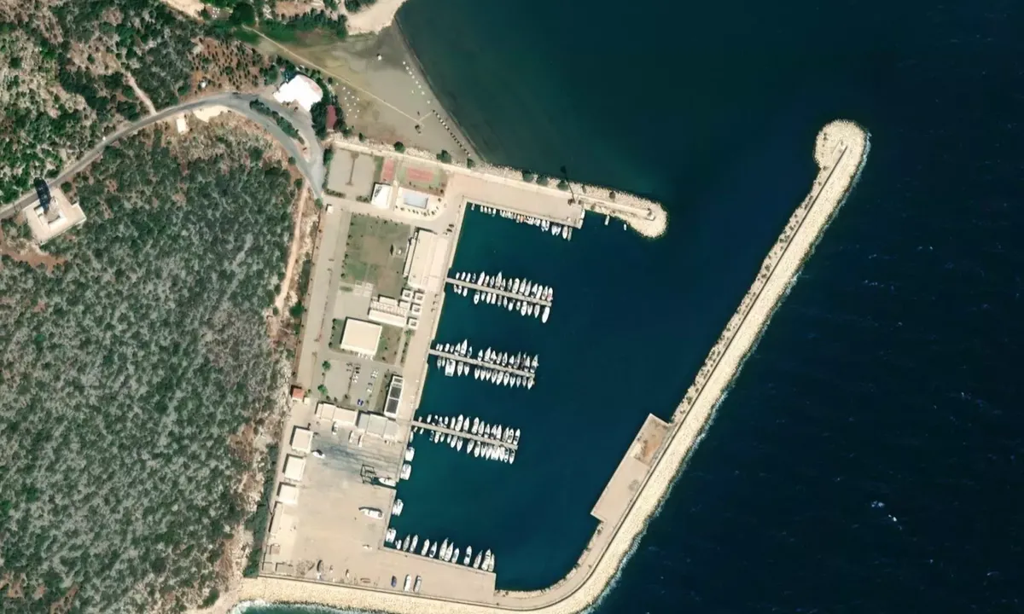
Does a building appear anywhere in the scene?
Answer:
Yes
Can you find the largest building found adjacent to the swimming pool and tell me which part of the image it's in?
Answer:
center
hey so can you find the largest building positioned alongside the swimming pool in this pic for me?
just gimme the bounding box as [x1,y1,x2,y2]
[408,230,448,290]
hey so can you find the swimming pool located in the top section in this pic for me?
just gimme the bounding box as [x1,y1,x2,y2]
[394,187,444,220]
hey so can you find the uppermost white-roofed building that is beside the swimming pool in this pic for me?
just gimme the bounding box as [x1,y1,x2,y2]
[372,183,393,209]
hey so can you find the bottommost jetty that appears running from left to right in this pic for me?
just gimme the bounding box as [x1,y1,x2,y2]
[411,420,518,450]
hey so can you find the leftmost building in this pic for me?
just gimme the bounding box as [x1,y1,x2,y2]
[24,188,87,245]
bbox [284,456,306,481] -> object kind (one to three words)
shed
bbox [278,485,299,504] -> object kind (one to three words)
shed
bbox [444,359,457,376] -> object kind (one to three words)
boat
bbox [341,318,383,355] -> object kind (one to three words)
building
